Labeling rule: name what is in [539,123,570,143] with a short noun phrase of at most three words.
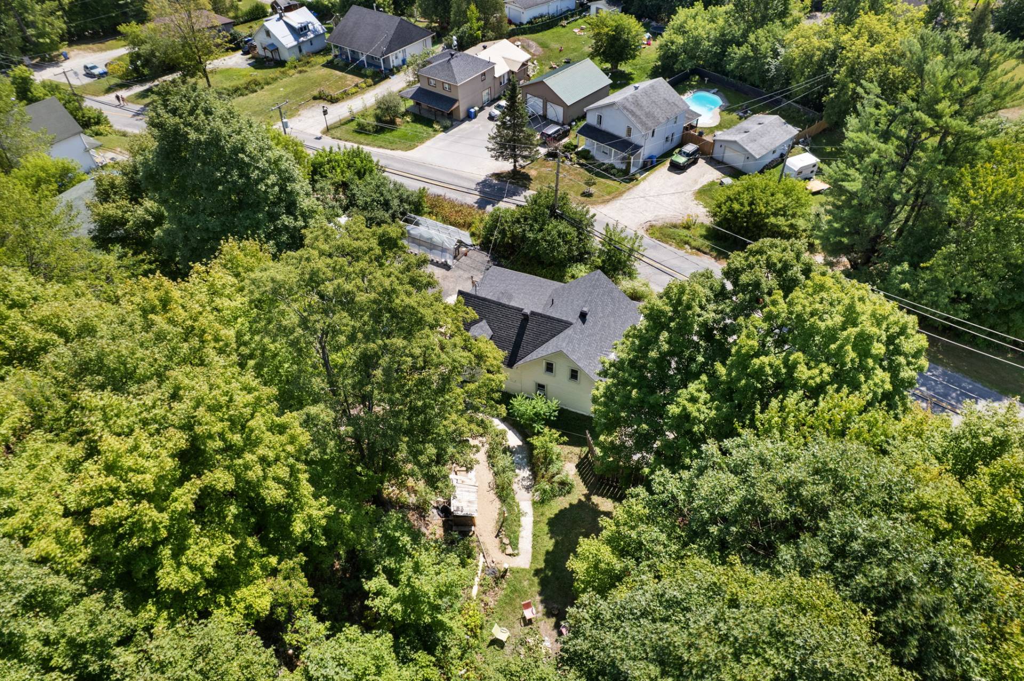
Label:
car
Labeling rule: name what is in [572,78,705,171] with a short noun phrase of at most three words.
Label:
house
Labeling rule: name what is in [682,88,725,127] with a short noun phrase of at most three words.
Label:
swimming pool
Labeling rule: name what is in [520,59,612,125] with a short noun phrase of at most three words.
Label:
building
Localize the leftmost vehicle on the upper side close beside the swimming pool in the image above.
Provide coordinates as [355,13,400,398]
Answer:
[670,143,705,171]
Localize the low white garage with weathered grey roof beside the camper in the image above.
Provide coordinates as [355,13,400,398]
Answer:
[712,115,796,172]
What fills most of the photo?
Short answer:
trees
